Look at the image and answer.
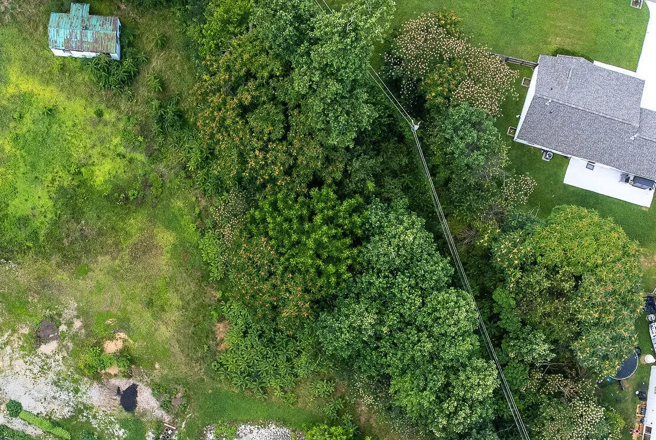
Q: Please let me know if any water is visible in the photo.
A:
No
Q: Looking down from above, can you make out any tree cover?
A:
Yes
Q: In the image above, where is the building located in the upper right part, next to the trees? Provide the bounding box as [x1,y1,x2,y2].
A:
[511,53,656,182]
